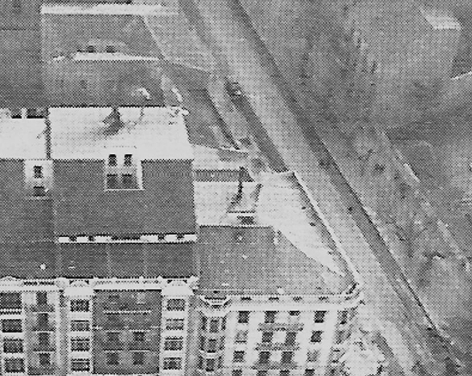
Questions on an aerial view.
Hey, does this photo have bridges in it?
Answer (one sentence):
No, there isn't any bridge down there.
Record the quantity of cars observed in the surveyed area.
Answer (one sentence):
I count no cars.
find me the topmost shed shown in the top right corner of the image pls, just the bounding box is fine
[354,2,459,102]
